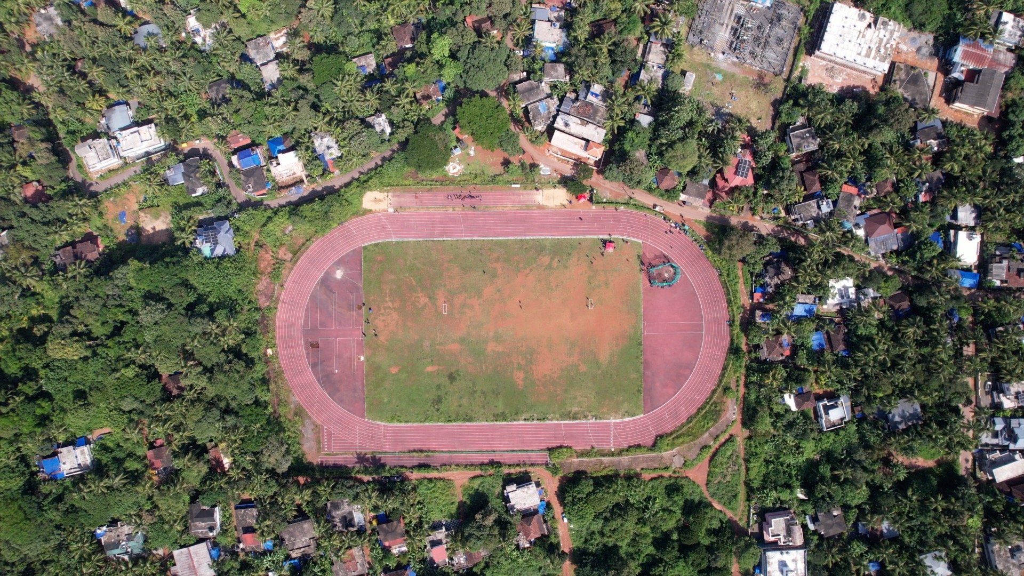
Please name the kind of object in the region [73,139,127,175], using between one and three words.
house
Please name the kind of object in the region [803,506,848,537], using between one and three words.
house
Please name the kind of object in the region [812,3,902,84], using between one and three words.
building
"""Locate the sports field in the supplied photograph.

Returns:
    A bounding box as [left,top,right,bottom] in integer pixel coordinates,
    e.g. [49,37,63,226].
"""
[363,237,643,423]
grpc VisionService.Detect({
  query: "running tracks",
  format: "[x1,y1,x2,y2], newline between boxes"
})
[276,209,730,451]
